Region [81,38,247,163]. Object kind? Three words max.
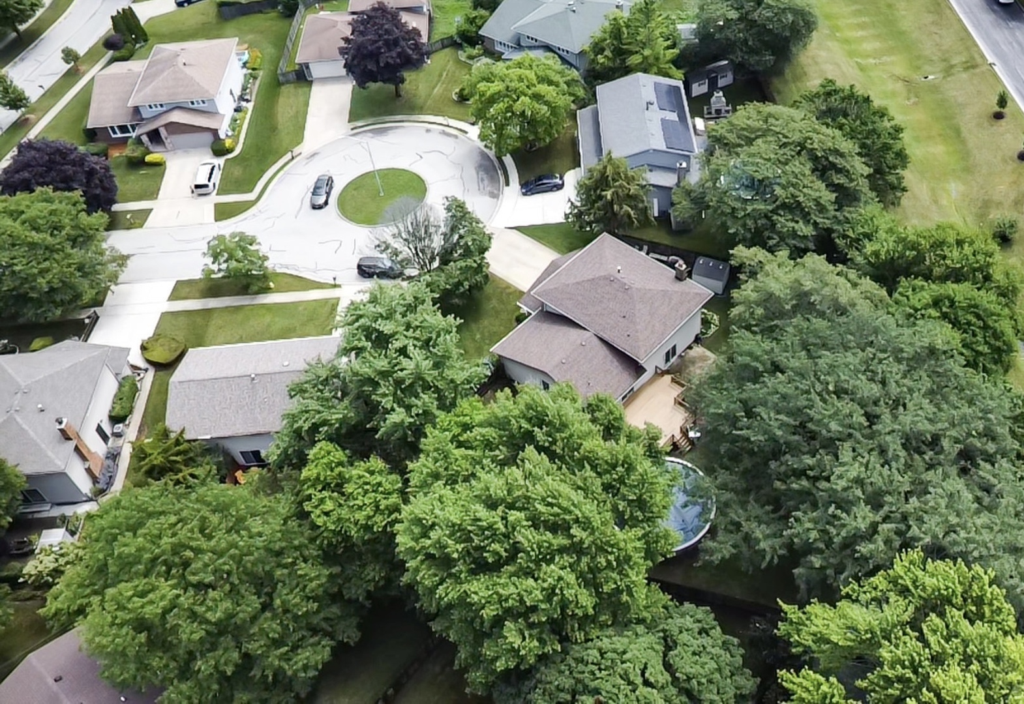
house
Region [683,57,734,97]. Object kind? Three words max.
shed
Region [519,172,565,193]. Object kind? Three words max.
car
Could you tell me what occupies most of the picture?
trees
